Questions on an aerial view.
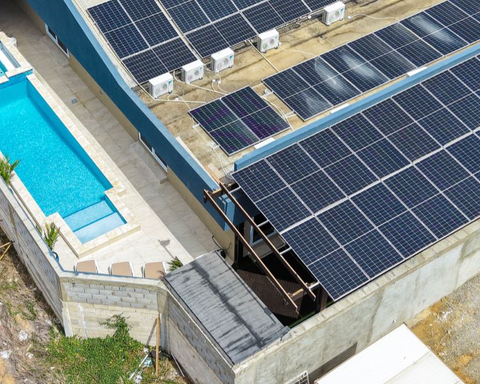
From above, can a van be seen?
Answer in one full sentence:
No, the picture doesn't show any van.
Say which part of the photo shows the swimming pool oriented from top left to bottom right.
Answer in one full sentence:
You can find the swimming pool oriented from top left to bottom right in the left area of the picture.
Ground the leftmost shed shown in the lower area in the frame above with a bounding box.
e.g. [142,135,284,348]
[164,243,291,358]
